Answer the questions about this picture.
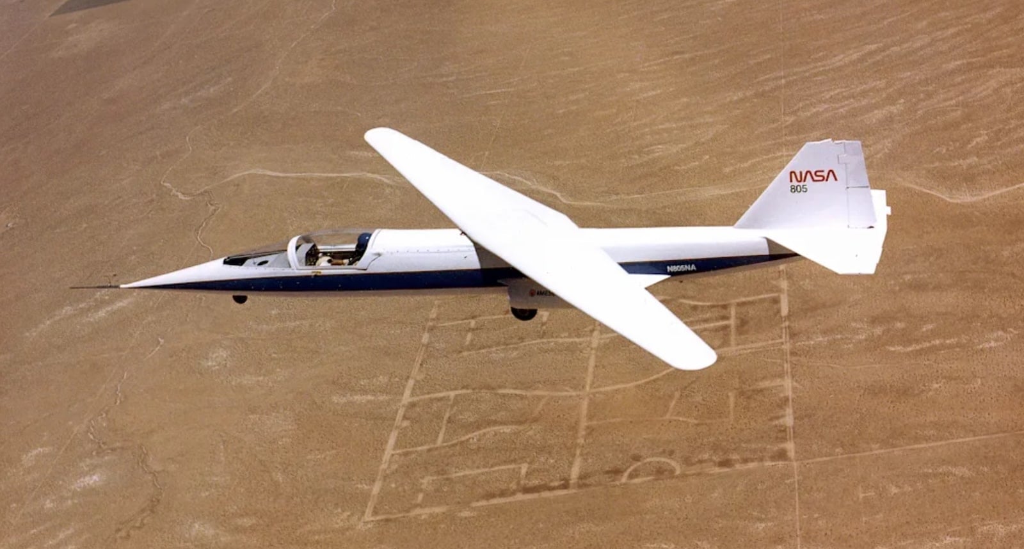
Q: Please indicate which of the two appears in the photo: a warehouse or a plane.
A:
plane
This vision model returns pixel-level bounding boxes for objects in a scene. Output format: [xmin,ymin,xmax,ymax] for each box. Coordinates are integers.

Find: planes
[70,127,890,370]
